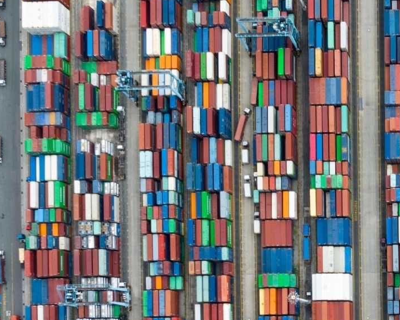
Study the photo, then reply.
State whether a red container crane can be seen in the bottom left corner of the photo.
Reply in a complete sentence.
No, no red container crane appears in the bottom left corner of the photo.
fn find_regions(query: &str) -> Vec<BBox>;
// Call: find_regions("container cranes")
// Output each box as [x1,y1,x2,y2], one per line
[114,65,186,108]
[58,280,131,314]
[235,14,300,59]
